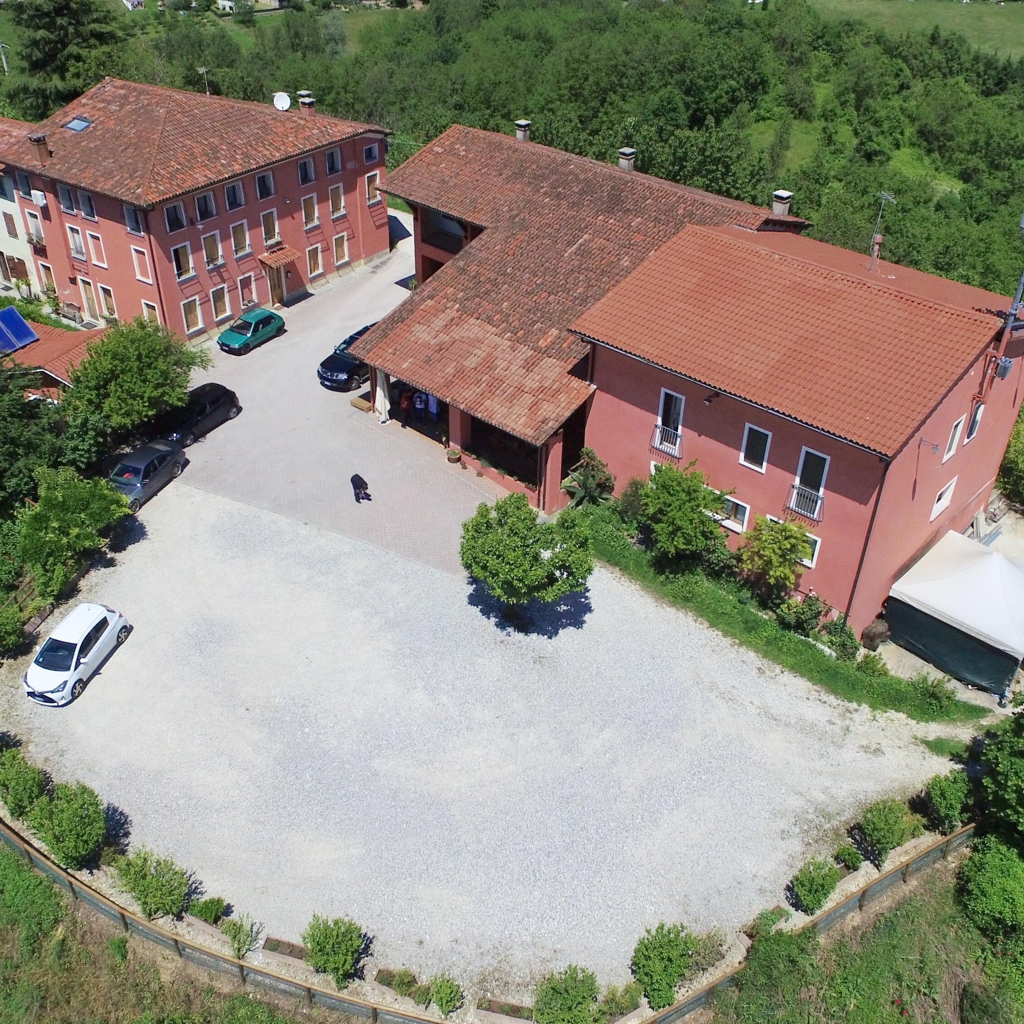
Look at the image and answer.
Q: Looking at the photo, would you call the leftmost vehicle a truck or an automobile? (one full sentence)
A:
In the photo, the leftmost vehicle shows up as an automobile.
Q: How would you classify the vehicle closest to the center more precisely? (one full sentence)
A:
The vehicle closest to the center can be classified as an automobile.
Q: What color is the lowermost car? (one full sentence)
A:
The color of the lowermost car is white.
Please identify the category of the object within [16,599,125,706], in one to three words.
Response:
car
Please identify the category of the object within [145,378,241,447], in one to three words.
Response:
car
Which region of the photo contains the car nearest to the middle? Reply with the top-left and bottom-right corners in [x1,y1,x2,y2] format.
[313,316,380,387]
